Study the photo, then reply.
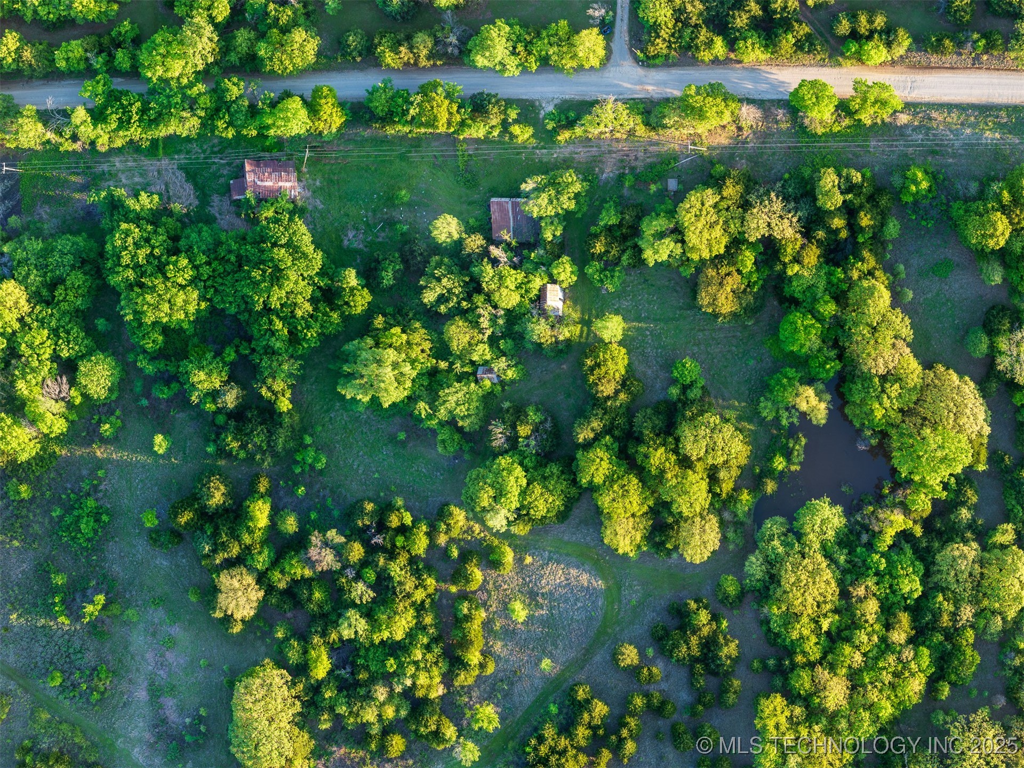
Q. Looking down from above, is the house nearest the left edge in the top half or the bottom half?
top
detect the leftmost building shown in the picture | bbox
[231,158,299,202]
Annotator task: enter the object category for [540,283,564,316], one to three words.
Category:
shed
